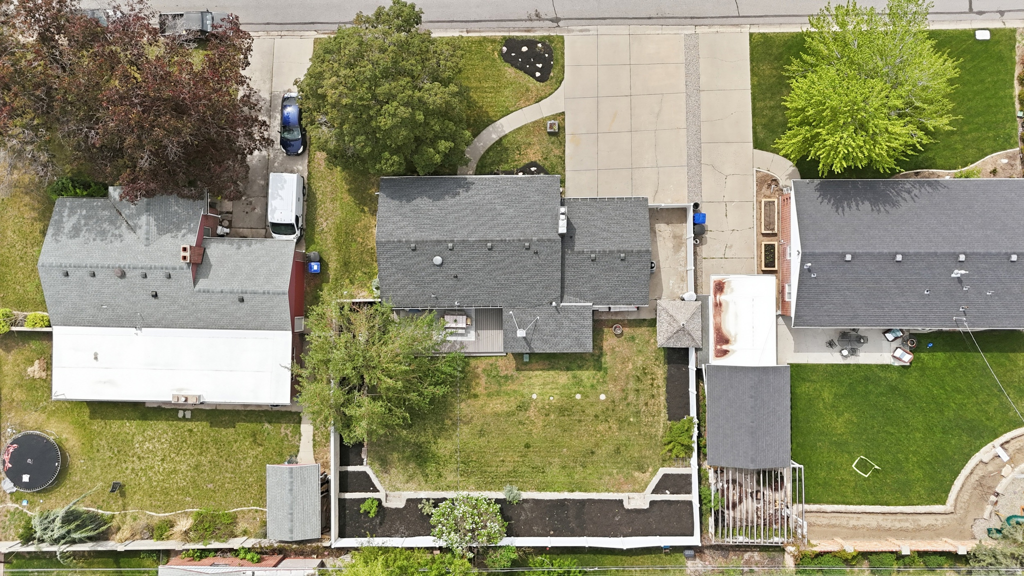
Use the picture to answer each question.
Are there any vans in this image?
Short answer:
Yes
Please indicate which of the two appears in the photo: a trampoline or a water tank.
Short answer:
trampoline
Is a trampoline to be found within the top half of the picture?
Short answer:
No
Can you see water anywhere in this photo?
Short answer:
No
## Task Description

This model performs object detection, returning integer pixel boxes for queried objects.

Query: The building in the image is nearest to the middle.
[376,172,652,353]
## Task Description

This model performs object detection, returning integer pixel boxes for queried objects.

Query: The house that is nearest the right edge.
[776,178,1024,329]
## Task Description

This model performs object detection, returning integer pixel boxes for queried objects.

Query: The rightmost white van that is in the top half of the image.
[270,173,308,245]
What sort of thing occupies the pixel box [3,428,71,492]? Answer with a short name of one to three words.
trampoline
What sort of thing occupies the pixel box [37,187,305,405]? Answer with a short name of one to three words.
house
